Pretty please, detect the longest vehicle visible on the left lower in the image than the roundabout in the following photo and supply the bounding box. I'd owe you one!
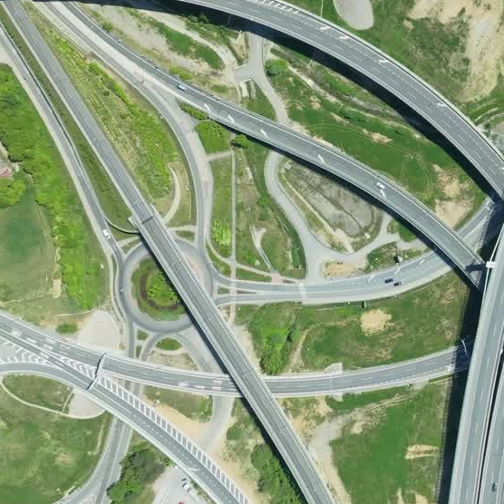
[181,481,195,496]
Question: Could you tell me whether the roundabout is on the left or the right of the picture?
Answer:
left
